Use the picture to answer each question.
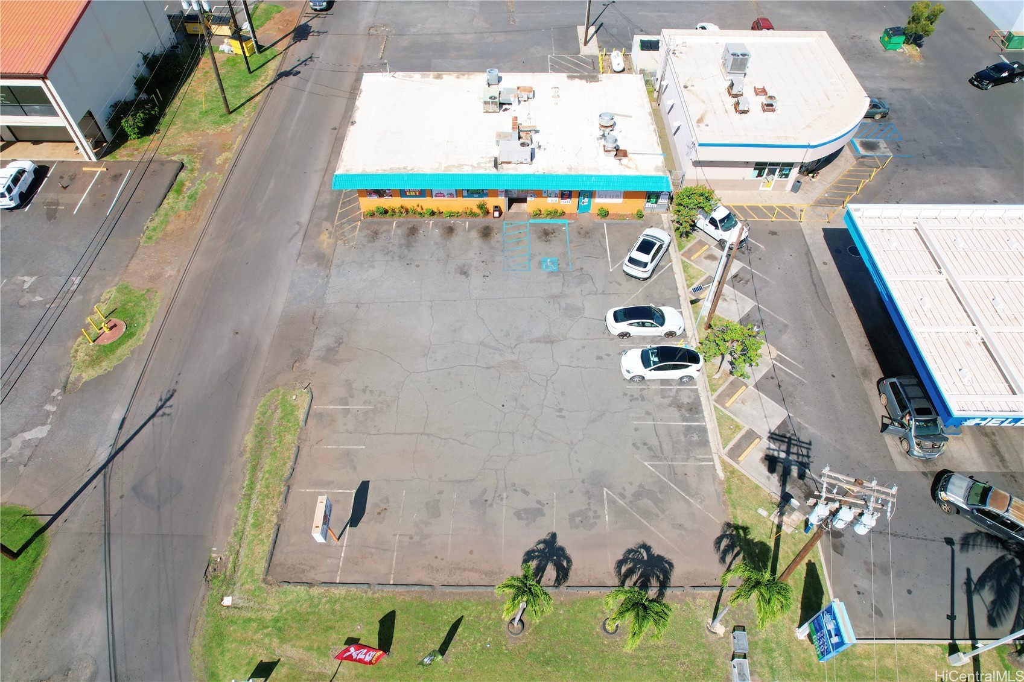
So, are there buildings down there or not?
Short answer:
Yes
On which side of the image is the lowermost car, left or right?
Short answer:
right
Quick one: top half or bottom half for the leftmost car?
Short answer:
top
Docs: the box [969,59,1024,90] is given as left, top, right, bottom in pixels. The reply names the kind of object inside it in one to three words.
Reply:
truck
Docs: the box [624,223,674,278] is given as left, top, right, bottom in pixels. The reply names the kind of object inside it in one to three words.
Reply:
car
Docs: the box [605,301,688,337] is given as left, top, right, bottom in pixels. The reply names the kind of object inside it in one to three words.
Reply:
car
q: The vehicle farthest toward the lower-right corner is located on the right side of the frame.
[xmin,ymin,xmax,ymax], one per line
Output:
[930,473,1024,555]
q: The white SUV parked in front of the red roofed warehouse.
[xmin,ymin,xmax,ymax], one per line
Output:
[0,161,37,207]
